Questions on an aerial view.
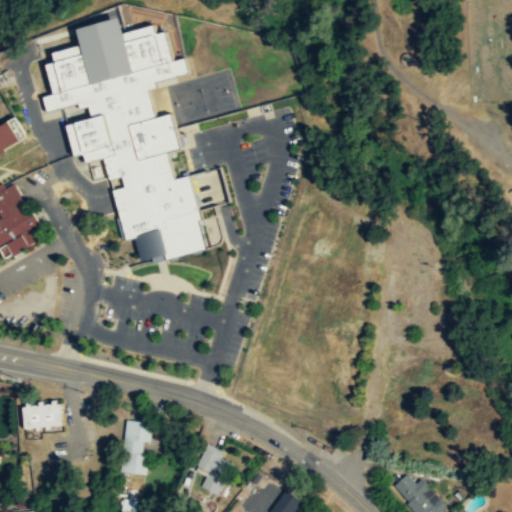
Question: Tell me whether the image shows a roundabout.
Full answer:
No, there appears to be no roundabout in this shot.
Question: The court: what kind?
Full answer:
I'd identify the court as a basketball court.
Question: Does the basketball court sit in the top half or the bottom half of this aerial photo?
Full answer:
You can find the basketball court in the top half.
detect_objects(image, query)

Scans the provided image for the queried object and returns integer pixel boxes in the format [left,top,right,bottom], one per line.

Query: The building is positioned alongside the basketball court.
[42,18,206,262]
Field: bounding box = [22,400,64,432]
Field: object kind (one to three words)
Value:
house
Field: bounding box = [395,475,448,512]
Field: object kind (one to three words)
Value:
house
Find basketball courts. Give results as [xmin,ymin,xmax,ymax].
[167,68,242,126]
